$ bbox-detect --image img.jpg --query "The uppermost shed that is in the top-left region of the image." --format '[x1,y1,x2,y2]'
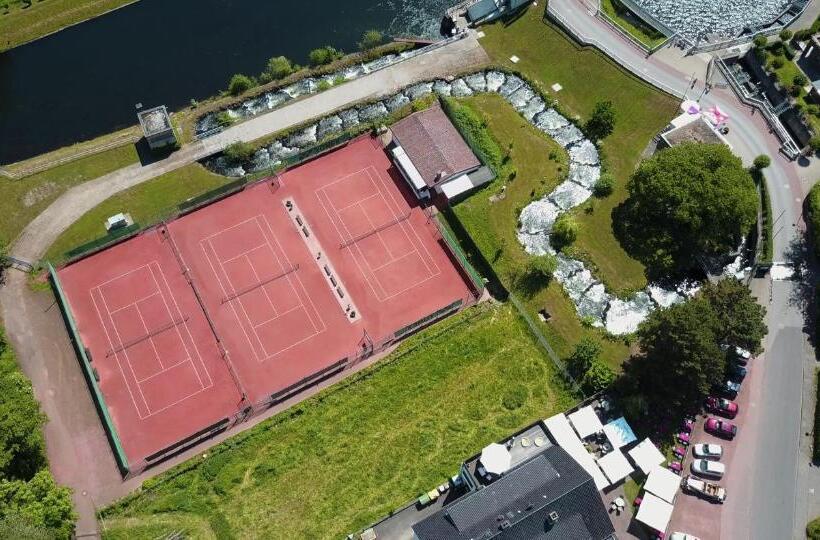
[143,105,182,149]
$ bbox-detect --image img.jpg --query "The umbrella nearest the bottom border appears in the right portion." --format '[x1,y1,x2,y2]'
[636,492,673,534]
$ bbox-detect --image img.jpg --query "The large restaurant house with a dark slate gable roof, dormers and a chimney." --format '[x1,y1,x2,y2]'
[412,447,612,540]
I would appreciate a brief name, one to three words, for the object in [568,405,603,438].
umbrella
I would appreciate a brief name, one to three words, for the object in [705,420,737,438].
car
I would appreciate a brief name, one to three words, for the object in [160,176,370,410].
tennis court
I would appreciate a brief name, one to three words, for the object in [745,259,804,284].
bridge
